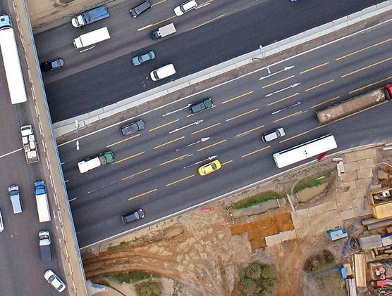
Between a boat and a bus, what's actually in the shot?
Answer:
bus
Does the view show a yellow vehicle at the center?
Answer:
Yes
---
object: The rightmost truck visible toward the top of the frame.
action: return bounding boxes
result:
[314,84,392,124]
